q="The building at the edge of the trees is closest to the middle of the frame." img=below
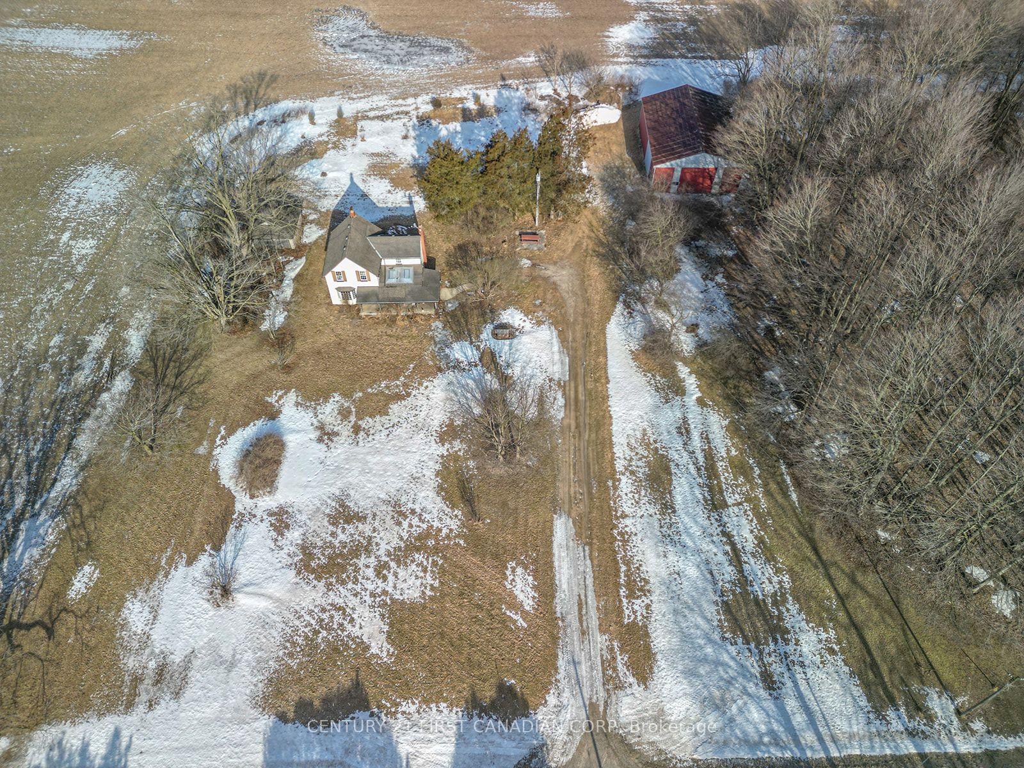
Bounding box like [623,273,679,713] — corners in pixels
[322,206,442,319]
